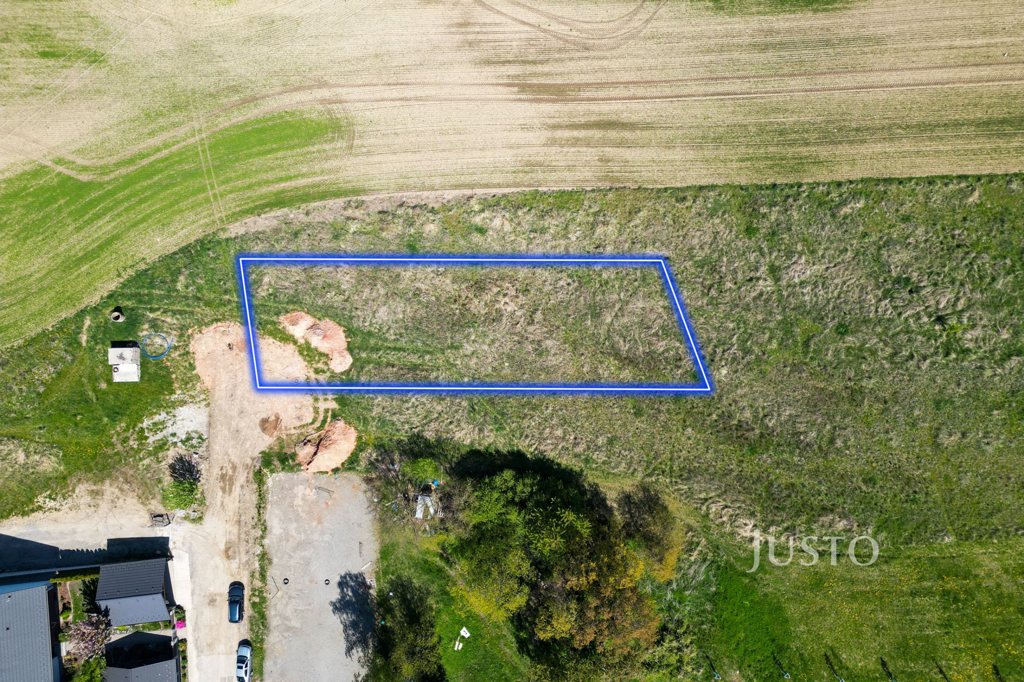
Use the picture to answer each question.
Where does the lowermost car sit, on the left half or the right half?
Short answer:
left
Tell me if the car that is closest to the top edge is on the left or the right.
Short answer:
left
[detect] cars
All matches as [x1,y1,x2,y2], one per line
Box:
[226,583,246,624]
[234,644,254,682]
